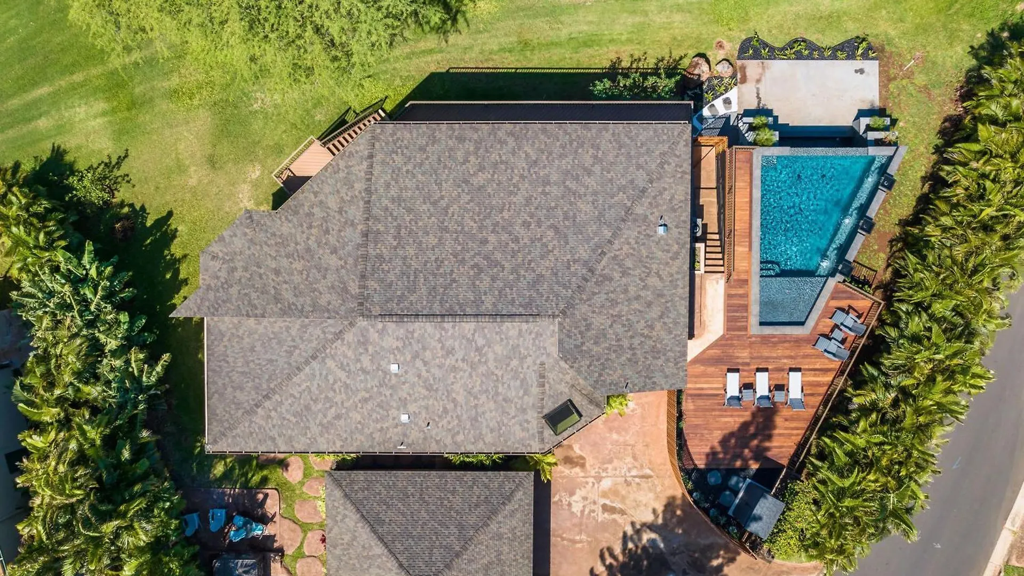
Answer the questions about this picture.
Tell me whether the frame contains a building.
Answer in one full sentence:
Yes, the picture does show a building.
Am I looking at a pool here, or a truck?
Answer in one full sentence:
Looking from above, you can make out a pool.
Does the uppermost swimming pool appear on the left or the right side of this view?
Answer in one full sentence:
The uppermost swimming pool is on the right side of the image.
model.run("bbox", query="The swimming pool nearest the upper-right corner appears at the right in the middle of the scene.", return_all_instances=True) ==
[751,137,907,334]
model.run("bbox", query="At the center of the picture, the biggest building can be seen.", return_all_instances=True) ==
[170,100,694,456]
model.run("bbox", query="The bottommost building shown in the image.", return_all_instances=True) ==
[324,466,535,576]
